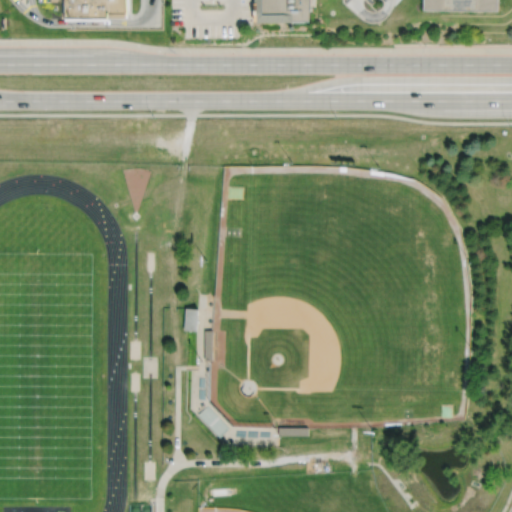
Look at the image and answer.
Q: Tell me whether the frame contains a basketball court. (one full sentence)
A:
No, there appears to be no basketball court in this shot.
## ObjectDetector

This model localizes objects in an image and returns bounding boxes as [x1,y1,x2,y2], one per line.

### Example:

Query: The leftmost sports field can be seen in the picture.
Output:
[0,250,94,502]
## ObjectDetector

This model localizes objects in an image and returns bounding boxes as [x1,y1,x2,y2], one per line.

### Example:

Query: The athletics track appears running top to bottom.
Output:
[0,176,127,512]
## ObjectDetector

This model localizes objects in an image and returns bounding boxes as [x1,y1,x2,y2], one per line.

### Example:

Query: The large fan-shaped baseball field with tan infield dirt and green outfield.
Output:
[212,166,472,428]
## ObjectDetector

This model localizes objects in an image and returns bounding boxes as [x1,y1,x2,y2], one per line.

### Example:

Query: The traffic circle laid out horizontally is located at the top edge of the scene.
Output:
[343,0,402,24]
